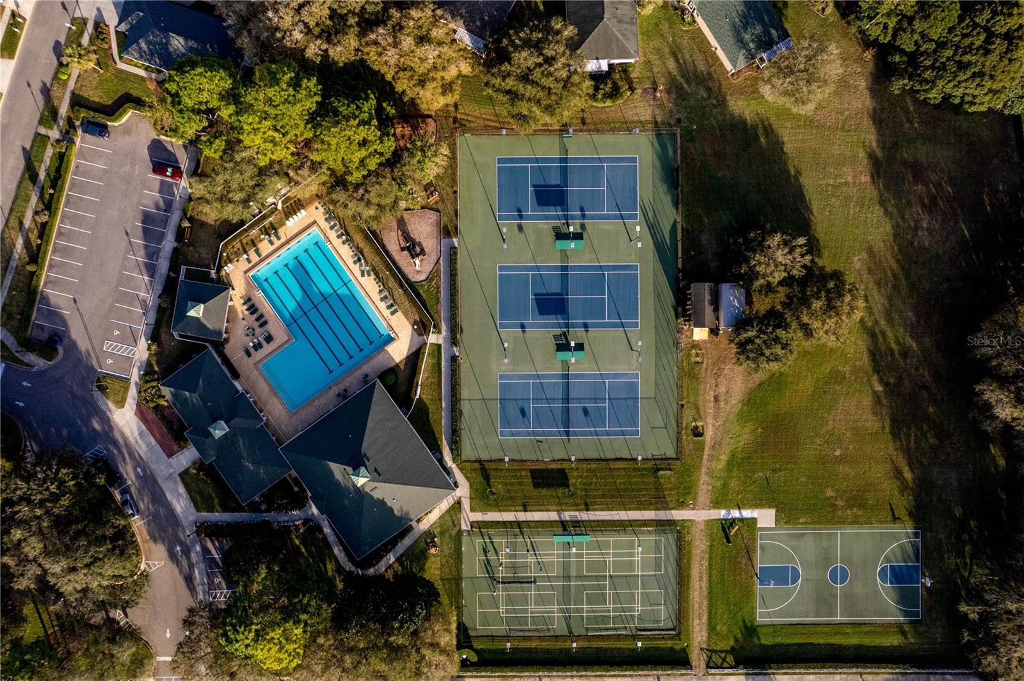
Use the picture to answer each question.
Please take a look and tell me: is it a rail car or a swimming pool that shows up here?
swimming pool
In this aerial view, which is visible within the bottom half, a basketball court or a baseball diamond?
basketball court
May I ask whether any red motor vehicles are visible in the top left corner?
Yes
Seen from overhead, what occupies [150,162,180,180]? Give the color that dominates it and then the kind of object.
red car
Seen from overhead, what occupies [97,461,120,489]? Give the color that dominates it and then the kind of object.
black car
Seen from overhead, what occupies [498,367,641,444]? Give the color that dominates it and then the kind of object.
blue tennis court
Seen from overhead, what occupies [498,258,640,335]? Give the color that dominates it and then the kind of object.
blue tennis court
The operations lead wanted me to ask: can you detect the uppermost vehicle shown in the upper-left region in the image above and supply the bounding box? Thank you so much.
[78,120,108,138]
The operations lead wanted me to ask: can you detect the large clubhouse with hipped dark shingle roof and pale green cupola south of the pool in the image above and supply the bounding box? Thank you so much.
[278,378,457,563]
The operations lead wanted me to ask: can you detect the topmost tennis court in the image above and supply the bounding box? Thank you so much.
[497,149,640,227]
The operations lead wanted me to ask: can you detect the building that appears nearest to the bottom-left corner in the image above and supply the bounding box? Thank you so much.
[158,349,293,507]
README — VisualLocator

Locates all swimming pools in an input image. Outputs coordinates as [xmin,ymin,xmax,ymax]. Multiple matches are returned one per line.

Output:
[241,221,402,421]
